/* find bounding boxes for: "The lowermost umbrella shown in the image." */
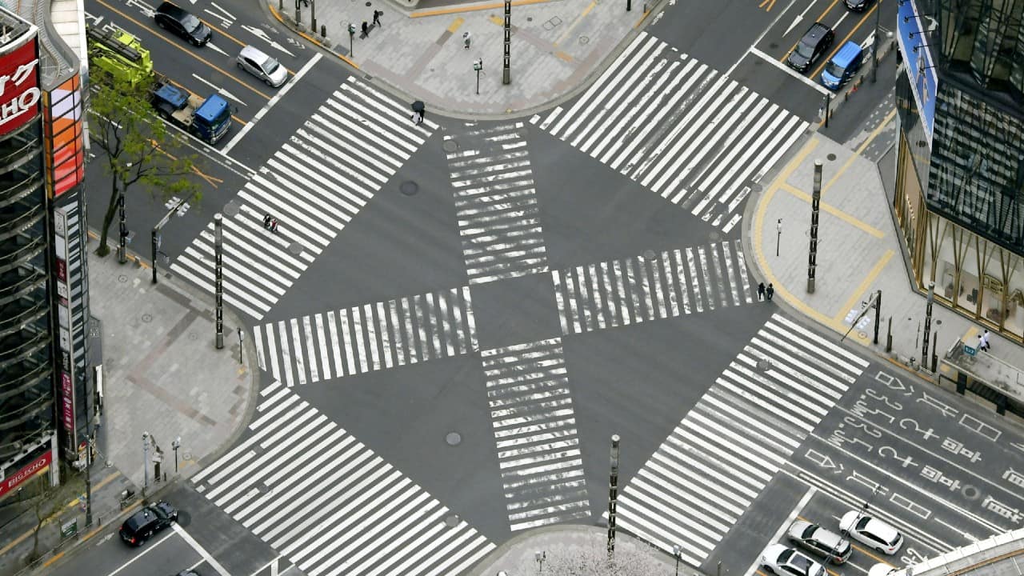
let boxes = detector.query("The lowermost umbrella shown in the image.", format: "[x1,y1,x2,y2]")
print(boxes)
[411,103,427,117]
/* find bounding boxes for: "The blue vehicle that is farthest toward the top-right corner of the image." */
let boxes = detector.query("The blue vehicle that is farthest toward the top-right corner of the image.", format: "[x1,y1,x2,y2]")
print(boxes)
[818,38,865,91]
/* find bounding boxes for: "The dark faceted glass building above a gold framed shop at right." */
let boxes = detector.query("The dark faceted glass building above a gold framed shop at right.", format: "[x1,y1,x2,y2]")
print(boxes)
[877,0,1024,344]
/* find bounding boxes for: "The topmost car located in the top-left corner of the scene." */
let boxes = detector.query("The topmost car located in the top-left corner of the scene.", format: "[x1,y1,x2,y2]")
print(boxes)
[150,0,215,47]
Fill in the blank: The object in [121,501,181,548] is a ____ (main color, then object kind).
black car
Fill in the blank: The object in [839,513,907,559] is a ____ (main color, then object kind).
white car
